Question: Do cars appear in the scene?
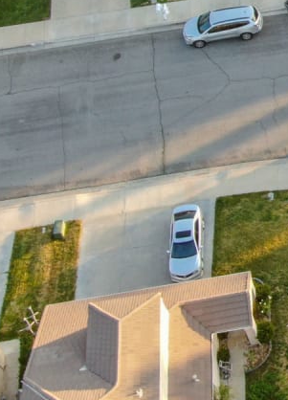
Yes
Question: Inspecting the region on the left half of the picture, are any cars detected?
No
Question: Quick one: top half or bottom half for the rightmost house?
bottom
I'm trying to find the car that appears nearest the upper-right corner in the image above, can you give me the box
[184,0,265,47]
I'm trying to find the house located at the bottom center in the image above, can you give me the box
[12,272,255,400]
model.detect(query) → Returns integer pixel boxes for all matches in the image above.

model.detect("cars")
[163,196,207,284]
[184,0,265,47]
